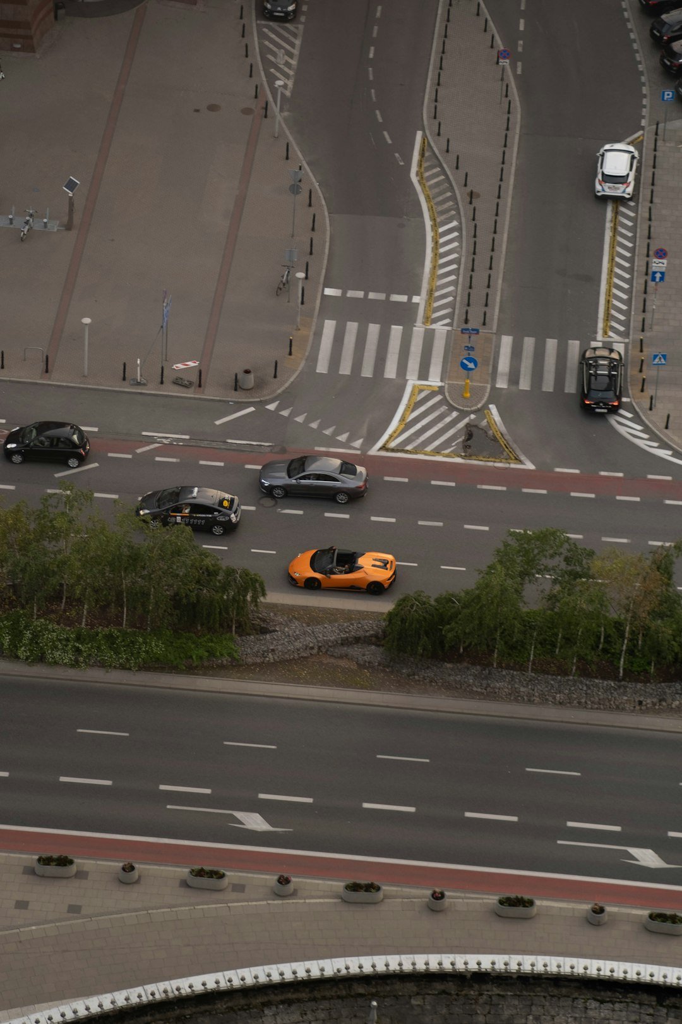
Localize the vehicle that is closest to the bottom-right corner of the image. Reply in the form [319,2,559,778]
[291,543,399,595]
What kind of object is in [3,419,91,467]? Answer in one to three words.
car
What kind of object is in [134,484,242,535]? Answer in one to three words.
car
